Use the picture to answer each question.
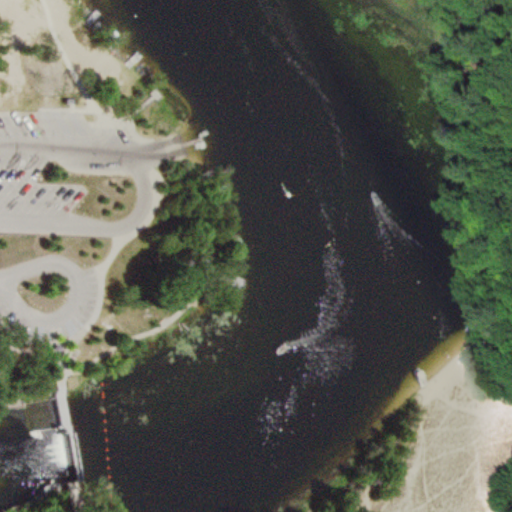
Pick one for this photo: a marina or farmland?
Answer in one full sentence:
This looks like a marina.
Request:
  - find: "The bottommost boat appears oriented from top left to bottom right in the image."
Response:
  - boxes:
[414,368,430,387]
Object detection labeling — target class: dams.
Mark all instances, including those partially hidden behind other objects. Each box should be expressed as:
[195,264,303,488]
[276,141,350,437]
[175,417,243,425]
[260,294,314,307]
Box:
[58,380,84,504]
